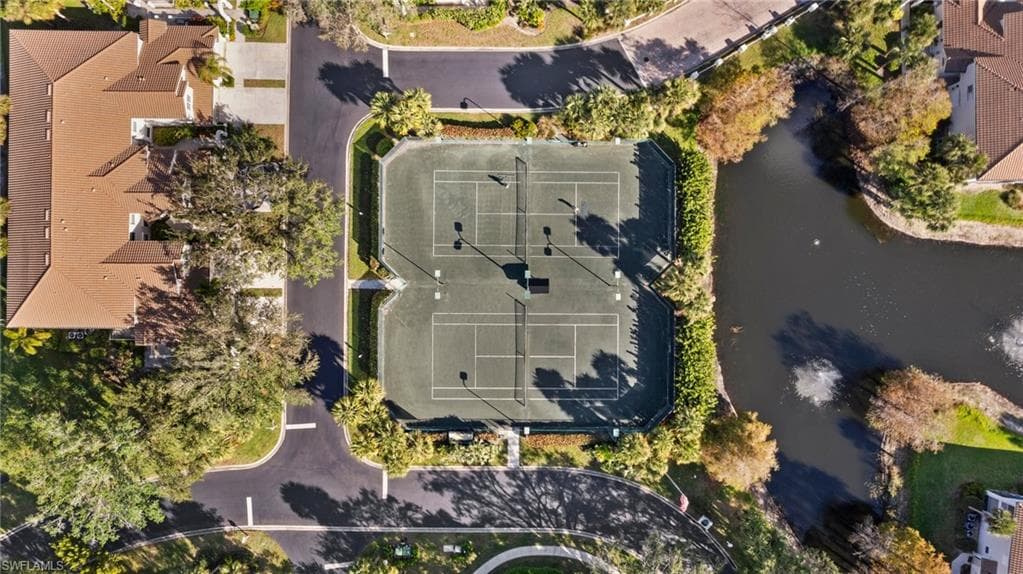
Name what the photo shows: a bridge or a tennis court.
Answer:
tennis court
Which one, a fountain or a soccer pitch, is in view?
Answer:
fountain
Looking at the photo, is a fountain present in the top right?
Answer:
No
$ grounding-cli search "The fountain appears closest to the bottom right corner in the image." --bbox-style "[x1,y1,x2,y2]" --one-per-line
[985,315,1023,372]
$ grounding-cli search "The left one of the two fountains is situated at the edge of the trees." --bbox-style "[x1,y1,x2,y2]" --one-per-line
[783,348,848,414]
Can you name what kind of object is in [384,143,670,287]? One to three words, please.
tennis court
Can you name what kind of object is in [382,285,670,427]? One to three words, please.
tennis court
